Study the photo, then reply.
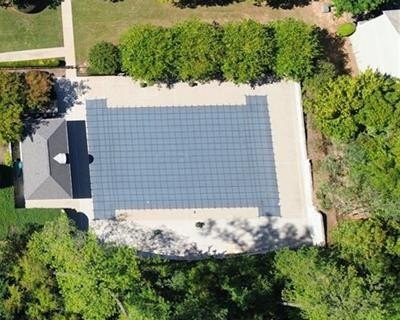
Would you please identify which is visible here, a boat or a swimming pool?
swimming pool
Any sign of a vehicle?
No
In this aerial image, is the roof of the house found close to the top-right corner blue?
No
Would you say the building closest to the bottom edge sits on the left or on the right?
left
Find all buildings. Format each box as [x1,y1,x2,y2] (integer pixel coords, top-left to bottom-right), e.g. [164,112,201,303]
[340,8,400,82]
[20,118,73,200]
